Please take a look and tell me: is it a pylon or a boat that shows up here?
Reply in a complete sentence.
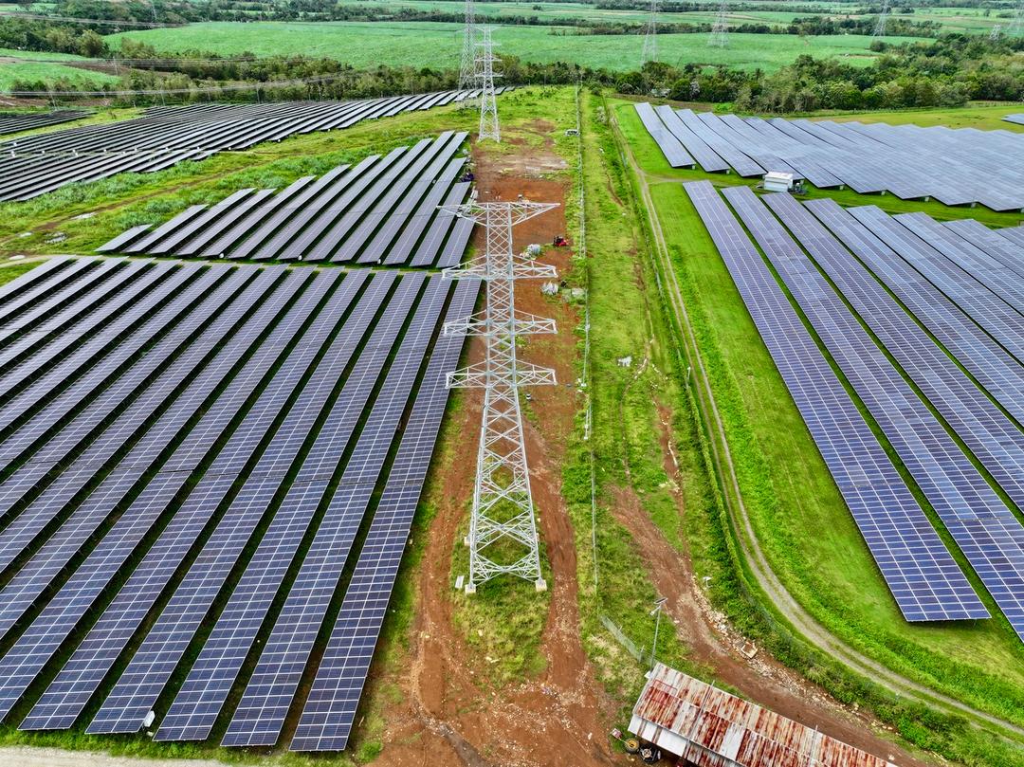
Visible in the photo is a pylon.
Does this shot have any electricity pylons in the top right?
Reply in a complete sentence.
Yes, I can see an electricity pylon in the top right.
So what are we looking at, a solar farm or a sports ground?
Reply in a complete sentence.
What you see here is a solar farm.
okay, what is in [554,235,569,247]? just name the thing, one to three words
vehicle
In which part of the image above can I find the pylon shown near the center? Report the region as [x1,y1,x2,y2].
[436,197,562,593]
